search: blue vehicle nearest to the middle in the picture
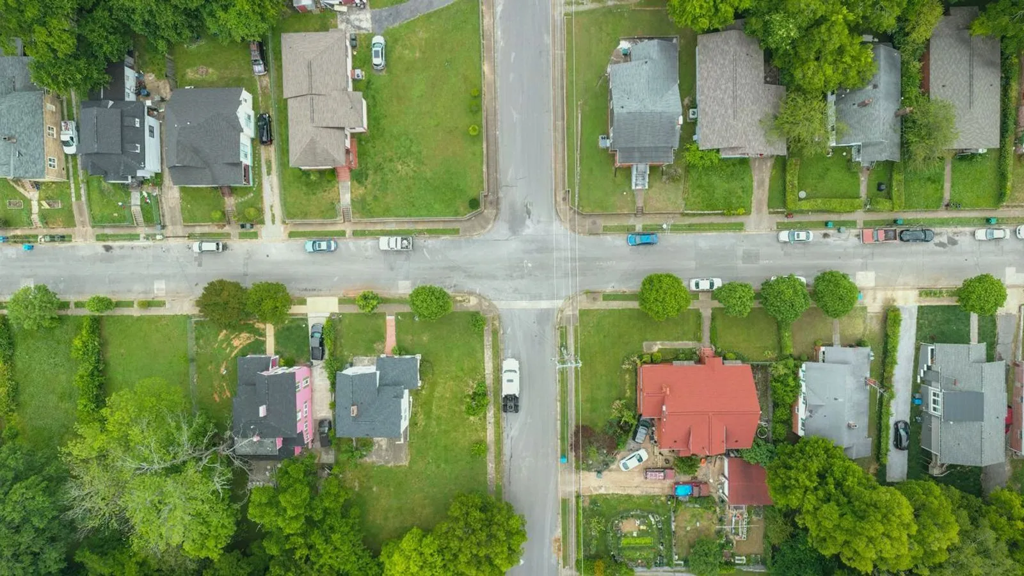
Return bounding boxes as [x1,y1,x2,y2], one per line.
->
[626,232,658,247]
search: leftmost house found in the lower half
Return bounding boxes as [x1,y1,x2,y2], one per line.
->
[233,355,311,456]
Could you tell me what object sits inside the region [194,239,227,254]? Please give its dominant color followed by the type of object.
white car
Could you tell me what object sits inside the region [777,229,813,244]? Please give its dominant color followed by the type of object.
white car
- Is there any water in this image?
No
